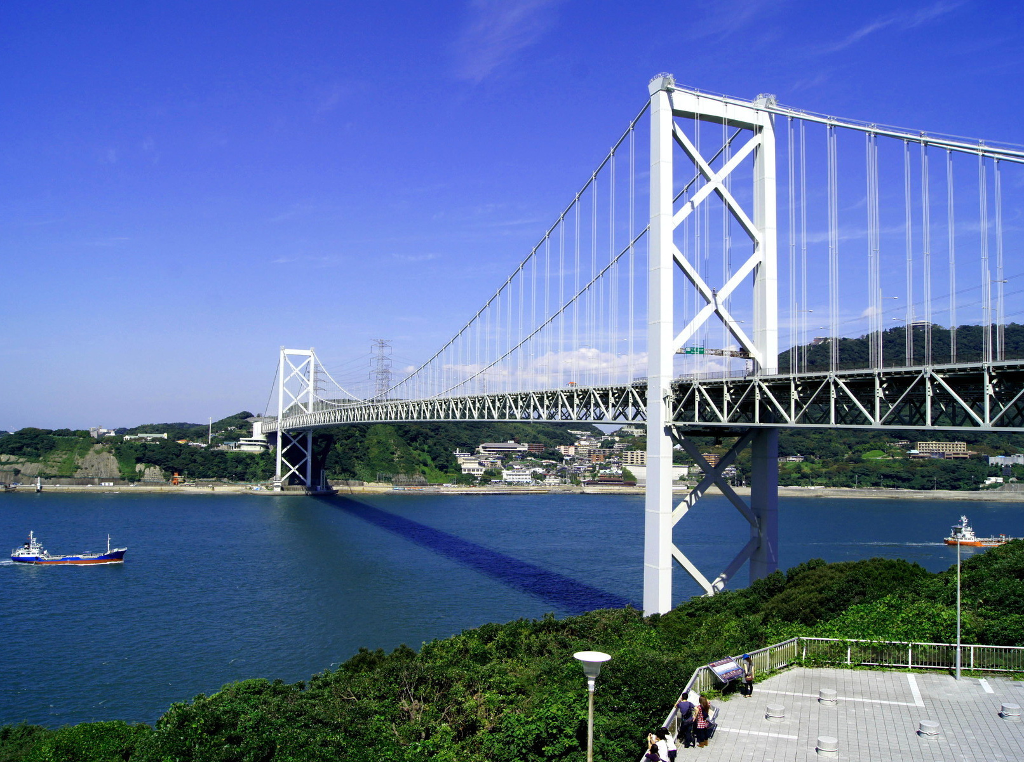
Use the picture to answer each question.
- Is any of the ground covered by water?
Yes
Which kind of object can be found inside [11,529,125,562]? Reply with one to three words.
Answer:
ship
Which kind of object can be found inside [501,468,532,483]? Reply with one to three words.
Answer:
building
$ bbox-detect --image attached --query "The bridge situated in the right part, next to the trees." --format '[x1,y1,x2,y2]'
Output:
[261,69,1024,613]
